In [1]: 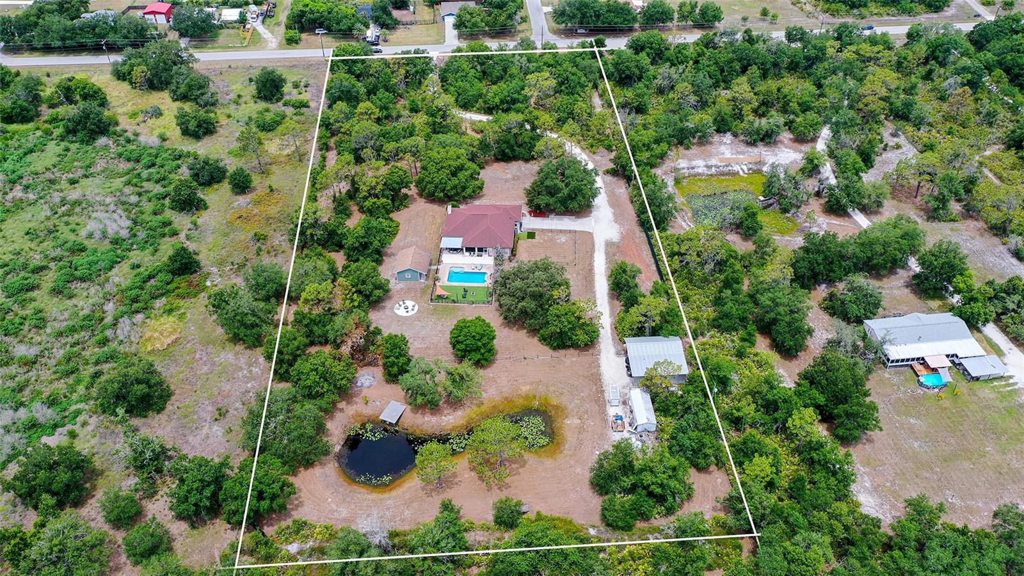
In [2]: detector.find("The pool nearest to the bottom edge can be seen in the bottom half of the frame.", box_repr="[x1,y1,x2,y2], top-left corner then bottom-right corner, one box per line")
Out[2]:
[918,371,948,395]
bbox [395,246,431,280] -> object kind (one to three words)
shed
